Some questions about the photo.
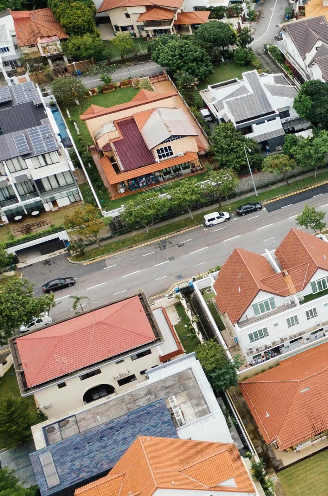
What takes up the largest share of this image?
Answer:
buildings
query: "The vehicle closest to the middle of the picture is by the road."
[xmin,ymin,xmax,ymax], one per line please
[200,205,234,225]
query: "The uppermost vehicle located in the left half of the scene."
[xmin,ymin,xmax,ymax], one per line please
[42,274,77,289]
